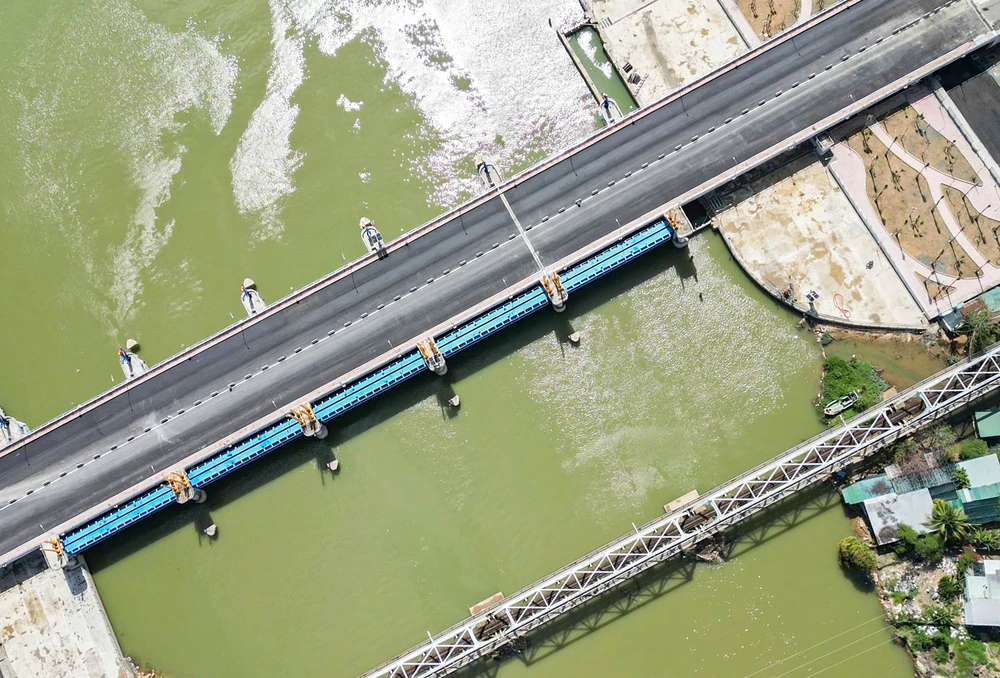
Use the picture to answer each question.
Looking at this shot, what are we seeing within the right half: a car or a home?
home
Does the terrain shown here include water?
Yes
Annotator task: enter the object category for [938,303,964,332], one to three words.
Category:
shed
